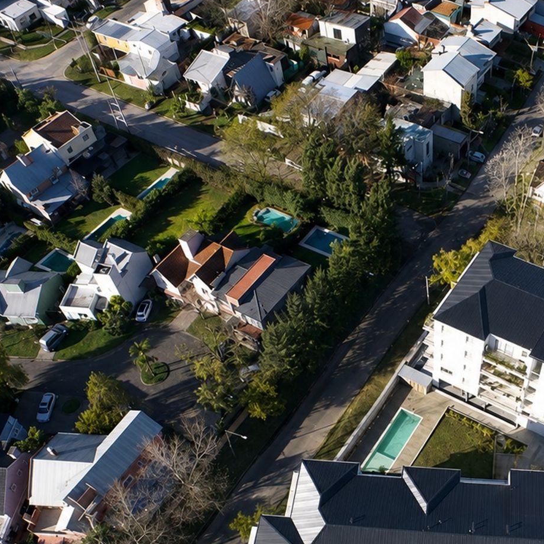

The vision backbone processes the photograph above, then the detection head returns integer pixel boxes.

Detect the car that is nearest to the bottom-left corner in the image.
[37,394,57,420]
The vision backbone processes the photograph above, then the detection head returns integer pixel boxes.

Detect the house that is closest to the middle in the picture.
[144,231,310,348]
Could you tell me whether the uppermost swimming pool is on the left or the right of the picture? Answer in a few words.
left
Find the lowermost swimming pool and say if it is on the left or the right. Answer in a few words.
right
